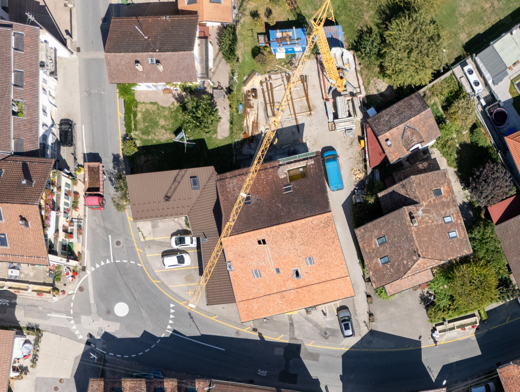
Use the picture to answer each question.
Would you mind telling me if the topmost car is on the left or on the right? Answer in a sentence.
The topmost car appears in the left half of the scene.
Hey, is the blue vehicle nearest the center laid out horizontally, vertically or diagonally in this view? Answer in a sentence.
What the image shows is the blue vehicle nearest the center lying vertically.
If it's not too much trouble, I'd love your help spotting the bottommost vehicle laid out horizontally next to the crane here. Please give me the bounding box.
[161,253,193,269]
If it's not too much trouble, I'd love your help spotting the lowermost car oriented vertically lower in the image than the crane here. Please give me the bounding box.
[337,307,356,340]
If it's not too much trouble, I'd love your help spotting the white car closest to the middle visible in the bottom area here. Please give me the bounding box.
[171,234,198,249]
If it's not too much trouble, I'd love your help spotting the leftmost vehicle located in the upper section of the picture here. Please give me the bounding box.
[57,118,76,149]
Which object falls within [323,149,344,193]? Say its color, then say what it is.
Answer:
blue vehicle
